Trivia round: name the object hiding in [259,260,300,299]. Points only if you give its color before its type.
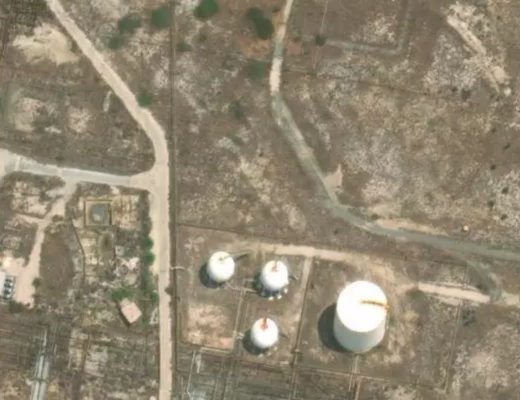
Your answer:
white storage tank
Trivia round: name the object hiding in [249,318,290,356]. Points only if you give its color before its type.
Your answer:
white storage tank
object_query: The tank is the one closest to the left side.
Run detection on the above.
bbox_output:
[206,251,251,290]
